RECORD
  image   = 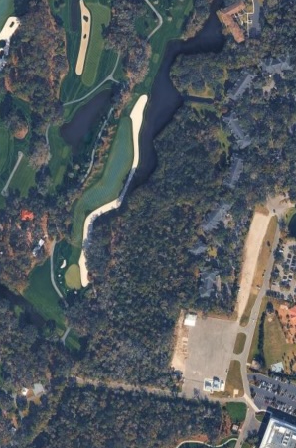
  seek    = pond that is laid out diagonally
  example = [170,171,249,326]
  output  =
[59,88,113,156]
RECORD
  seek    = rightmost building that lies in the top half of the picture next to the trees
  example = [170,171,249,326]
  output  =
[260,58,293,77]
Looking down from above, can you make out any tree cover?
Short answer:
Yes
